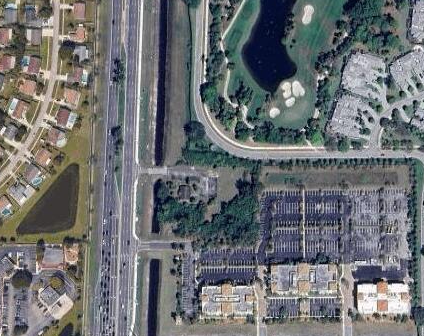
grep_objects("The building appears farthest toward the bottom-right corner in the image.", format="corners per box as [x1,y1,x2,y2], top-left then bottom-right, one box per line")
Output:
[357,282,410,314]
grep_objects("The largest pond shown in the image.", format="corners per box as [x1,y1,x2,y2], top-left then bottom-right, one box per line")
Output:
[16,162,79,233]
